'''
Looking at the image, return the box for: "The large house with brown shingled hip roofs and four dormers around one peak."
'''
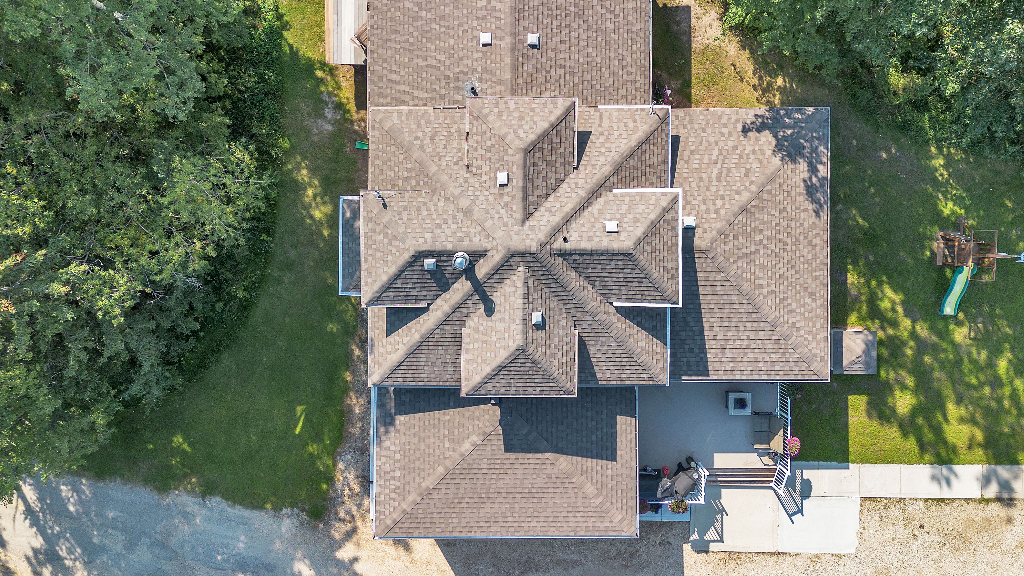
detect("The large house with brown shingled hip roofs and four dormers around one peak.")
[340,0,830,539]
